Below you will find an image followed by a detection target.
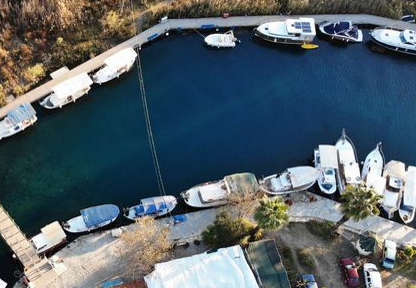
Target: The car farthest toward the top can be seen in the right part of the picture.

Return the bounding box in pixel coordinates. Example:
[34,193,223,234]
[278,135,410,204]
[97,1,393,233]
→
[378,239,400,272]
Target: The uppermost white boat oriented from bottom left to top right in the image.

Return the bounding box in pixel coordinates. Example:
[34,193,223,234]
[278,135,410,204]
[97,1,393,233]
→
[93,43,139,82]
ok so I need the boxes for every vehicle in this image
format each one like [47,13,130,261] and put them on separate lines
[378,239,400,272]
[359,263,386,288]
[337,258,362,288]
[299,275,320,288]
